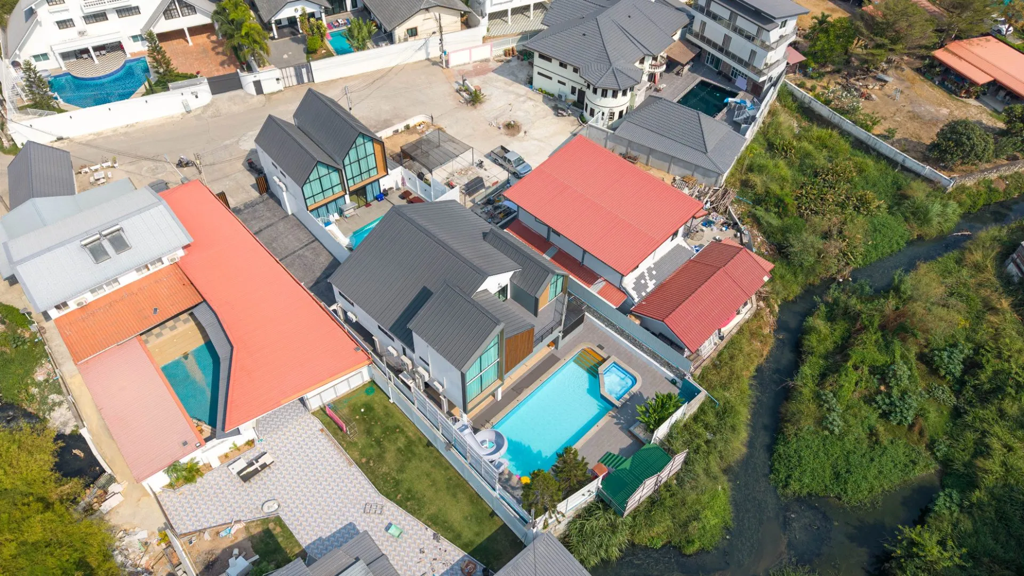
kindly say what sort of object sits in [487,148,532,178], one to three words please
truck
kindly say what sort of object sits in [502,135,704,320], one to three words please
building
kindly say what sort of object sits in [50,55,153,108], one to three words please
swimming pool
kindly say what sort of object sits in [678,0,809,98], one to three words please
house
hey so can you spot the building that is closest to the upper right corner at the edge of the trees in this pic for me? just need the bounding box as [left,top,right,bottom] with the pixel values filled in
[934,27,1024,104]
